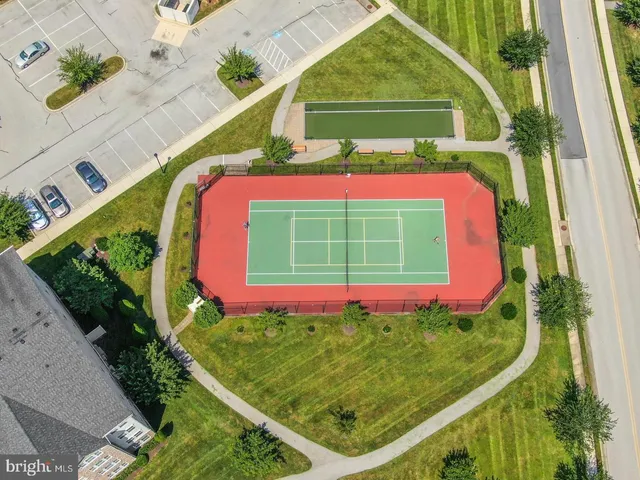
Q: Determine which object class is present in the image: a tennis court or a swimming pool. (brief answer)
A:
tennis court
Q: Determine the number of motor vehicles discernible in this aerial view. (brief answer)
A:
4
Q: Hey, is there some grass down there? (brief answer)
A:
Yes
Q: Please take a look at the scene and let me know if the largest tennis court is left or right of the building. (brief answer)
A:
right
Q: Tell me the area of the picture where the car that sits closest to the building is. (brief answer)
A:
left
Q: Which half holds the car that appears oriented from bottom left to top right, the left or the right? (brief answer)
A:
left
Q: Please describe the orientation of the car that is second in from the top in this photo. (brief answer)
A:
at an angle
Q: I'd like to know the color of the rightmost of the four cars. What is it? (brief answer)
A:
blue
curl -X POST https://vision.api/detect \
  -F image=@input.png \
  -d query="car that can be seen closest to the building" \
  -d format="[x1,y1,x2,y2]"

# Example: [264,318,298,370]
[16,194,49,230]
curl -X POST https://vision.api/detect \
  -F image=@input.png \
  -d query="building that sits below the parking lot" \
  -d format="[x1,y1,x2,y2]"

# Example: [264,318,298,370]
[0,245,152,480]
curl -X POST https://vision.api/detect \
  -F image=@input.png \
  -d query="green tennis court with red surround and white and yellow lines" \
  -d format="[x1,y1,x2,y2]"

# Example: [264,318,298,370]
[194,172,506,318]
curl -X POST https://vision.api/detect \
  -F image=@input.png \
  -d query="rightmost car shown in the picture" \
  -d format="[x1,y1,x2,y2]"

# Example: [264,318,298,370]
[73,158,107,191]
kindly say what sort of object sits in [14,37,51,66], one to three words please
car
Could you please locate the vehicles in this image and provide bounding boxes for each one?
[36,183,69,218]
[16,194,49,230]
[73,158,107,191]
[14,37,51,66]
